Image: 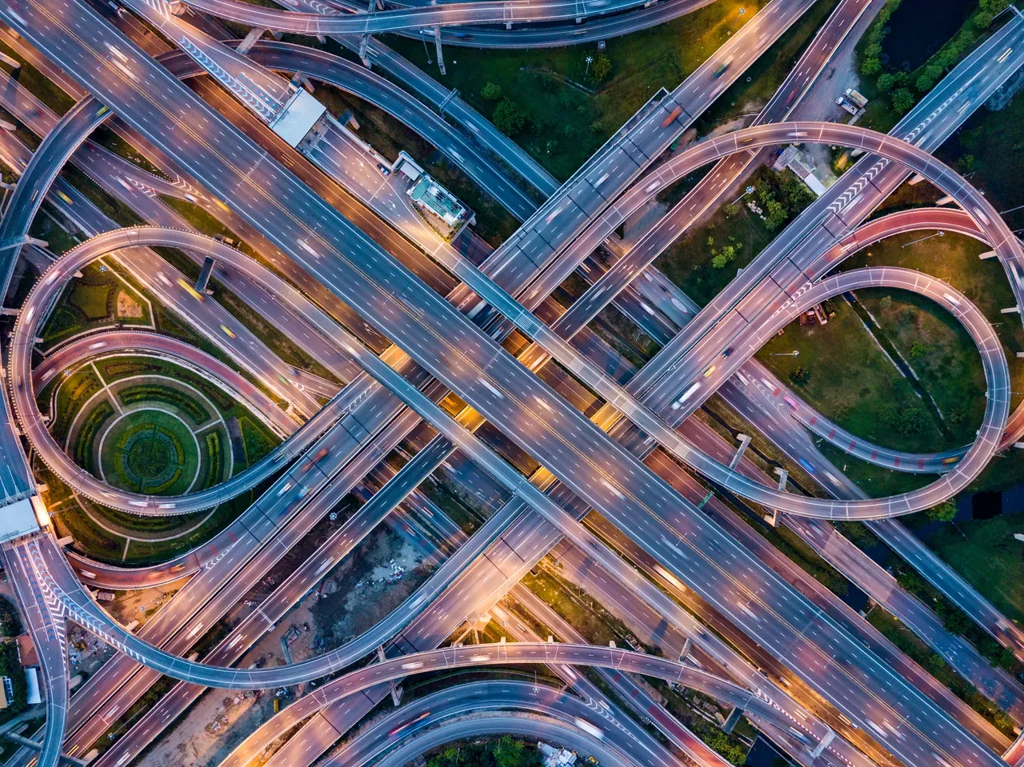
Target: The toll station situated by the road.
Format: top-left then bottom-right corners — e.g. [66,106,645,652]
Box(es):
[0,481,146,689]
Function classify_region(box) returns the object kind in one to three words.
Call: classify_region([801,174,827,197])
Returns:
shed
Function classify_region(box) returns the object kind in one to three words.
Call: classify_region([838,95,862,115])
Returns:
vehicle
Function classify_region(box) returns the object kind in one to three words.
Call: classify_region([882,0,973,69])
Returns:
pond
